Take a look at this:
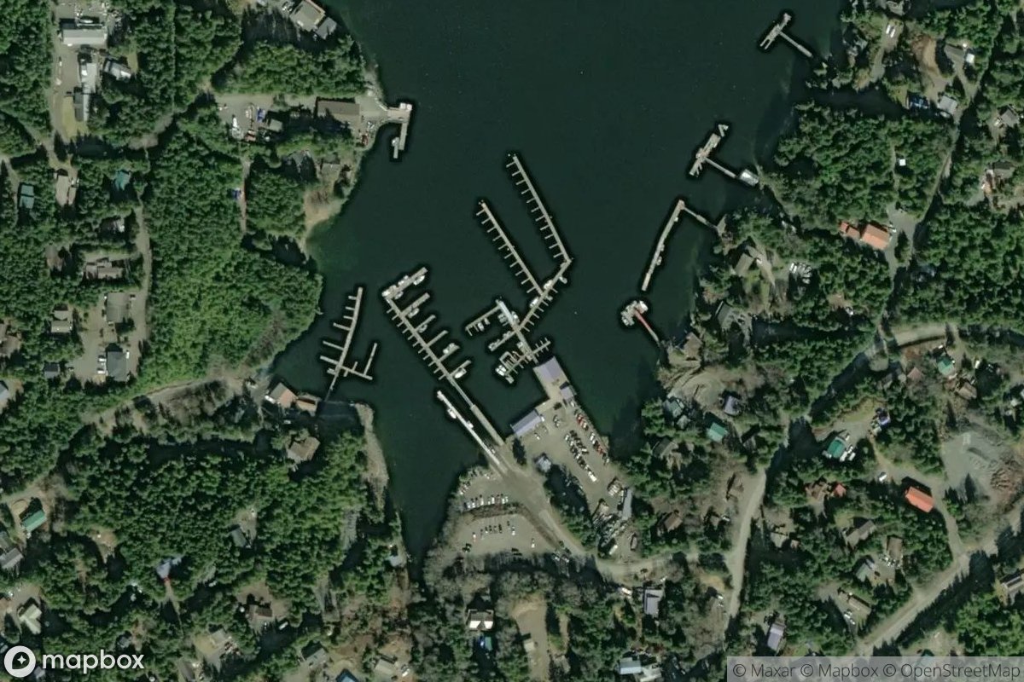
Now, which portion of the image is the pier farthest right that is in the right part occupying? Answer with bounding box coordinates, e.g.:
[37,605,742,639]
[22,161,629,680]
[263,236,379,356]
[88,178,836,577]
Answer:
[760,15,813,57]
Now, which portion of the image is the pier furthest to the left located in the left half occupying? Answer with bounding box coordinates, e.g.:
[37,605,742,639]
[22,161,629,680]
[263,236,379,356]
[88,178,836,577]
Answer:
[320,287,377,402]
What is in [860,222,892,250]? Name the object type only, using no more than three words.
house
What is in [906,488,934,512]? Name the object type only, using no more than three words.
barn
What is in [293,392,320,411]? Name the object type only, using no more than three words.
building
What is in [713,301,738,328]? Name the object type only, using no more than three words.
house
